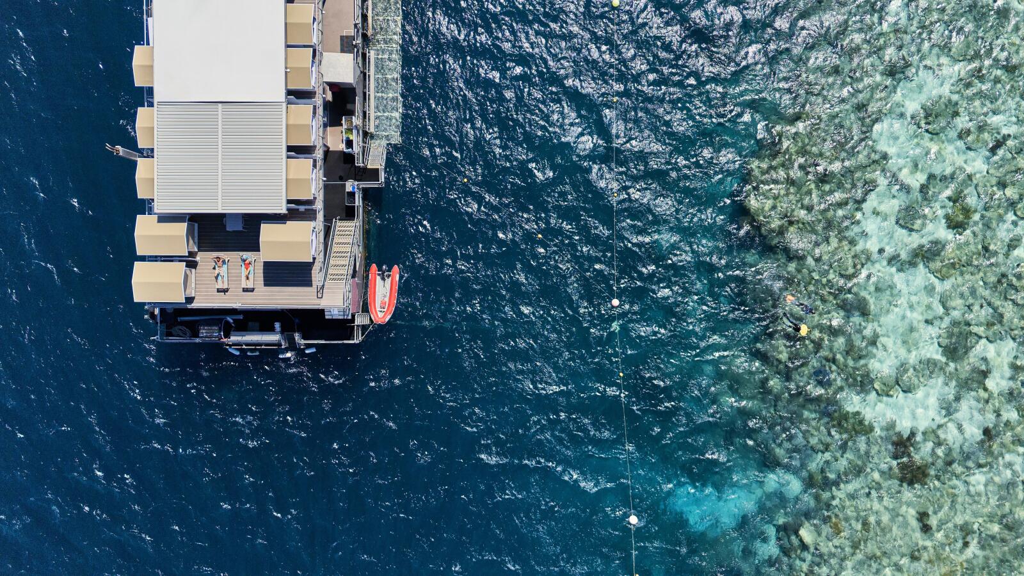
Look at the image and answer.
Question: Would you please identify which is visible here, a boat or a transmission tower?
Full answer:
Visible in the photo is a boat.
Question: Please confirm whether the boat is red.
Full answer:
Yes, red is the color of the boat.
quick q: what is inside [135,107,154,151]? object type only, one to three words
tent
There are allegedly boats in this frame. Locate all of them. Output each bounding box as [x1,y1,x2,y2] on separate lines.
[368,262,400,324]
